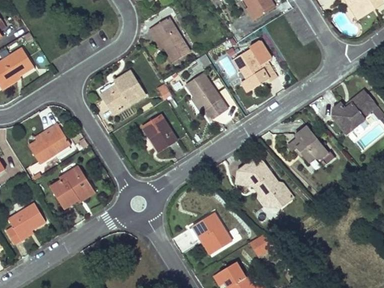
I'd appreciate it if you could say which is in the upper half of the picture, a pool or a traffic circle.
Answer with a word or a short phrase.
pool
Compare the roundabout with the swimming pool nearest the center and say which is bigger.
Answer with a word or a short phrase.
the roundabout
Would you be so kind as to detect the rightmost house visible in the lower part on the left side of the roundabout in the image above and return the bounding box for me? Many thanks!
[50,166,96,210]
